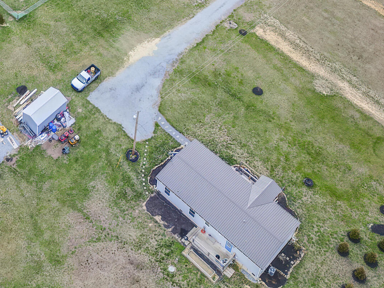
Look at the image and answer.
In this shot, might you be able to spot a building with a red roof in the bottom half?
No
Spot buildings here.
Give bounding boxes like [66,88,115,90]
[22,88,68,134]
[152,139,301,281]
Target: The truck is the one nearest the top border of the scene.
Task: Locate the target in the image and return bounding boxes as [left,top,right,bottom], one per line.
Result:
[69,62,102,93]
